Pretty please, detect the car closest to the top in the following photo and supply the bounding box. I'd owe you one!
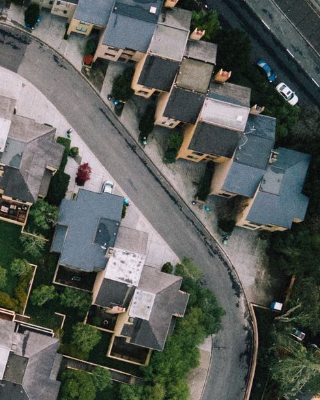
[256,57,277,82]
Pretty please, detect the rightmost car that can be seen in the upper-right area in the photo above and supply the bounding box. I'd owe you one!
[275,80,299,108]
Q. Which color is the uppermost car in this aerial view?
blue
